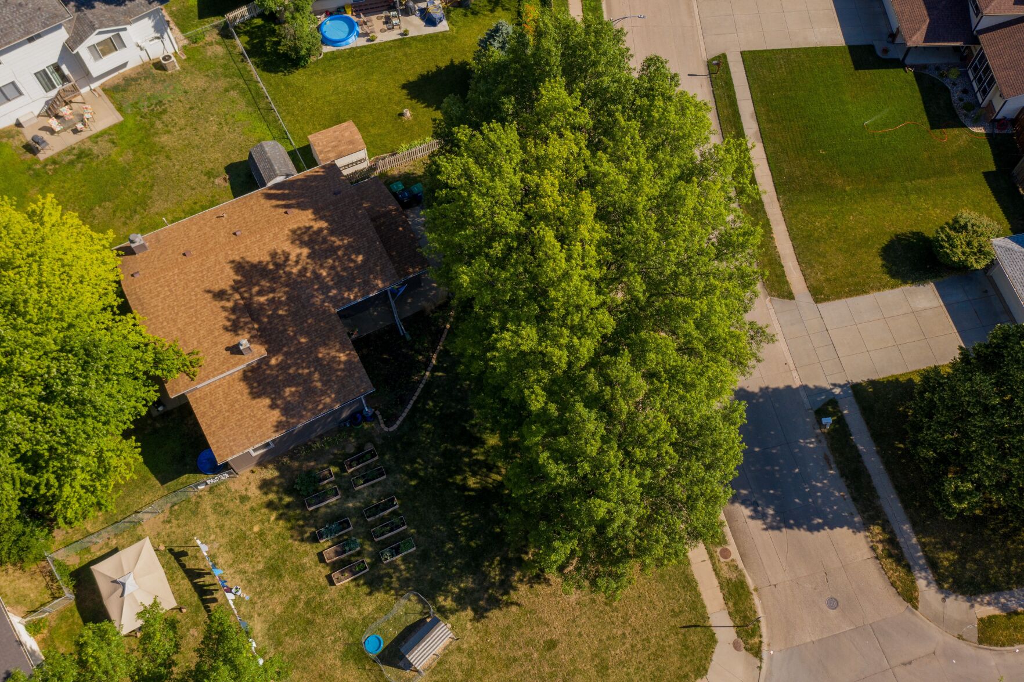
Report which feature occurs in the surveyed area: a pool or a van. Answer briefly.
pool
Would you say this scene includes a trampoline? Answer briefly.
No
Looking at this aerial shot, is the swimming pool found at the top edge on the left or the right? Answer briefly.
left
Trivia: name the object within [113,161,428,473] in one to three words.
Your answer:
house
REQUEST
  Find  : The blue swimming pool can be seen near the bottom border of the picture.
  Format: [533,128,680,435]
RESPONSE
[362,633,383,655]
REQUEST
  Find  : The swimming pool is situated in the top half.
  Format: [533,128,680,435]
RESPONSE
[320,15,358,46]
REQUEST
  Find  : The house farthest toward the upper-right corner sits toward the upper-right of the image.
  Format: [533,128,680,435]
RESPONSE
[880,0,1024,119]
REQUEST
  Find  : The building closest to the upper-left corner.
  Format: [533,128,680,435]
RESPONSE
[0,0,175,127]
